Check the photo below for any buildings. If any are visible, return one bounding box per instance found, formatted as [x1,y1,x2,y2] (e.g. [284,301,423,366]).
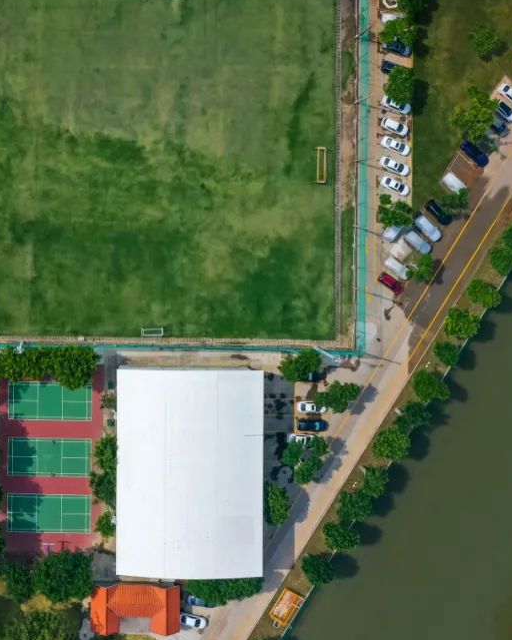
[115,368,263,579]
[91,582,181,637]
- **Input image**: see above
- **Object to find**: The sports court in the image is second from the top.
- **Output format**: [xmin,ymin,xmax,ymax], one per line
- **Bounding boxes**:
[8,437,92,476]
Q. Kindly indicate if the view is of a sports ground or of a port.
sports ground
